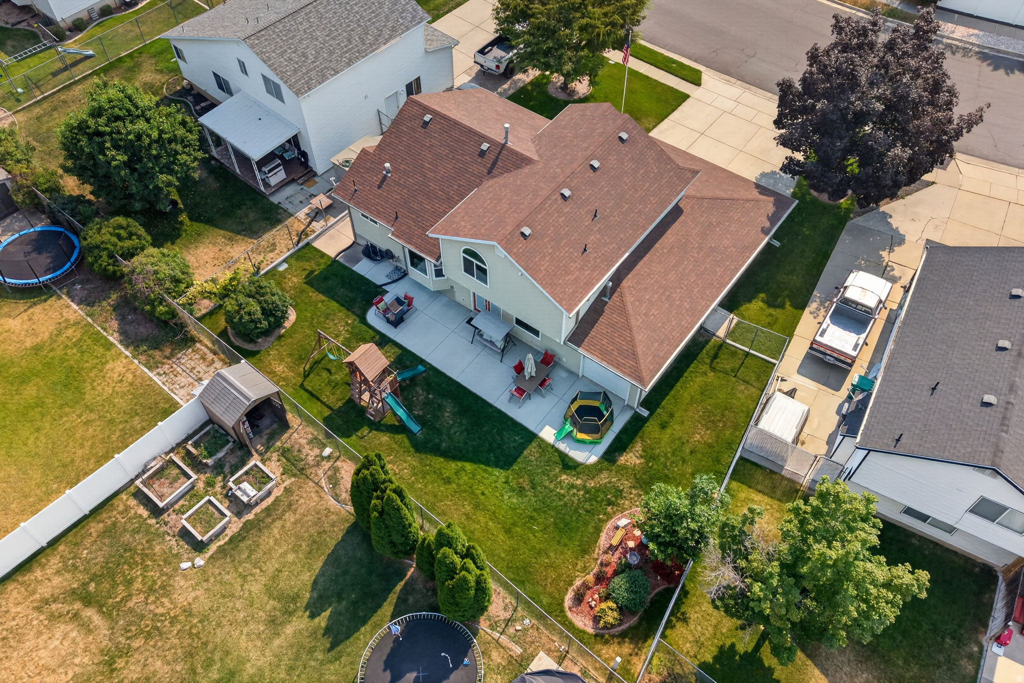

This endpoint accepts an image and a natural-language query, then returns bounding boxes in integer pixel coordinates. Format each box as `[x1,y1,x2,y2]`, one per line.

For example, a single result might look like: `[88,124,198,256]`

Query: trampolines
[552,387,619,444]
[0,208,81,305]
[356,609,485,683]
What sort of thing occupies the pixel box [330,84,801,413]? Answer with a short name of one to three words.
house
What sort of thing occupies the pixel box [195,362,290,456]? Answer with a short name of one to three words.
shed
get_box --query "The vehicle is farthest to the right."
[807,269,892,372]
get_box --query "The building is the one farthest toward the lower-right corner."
[827,248,1024,574]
